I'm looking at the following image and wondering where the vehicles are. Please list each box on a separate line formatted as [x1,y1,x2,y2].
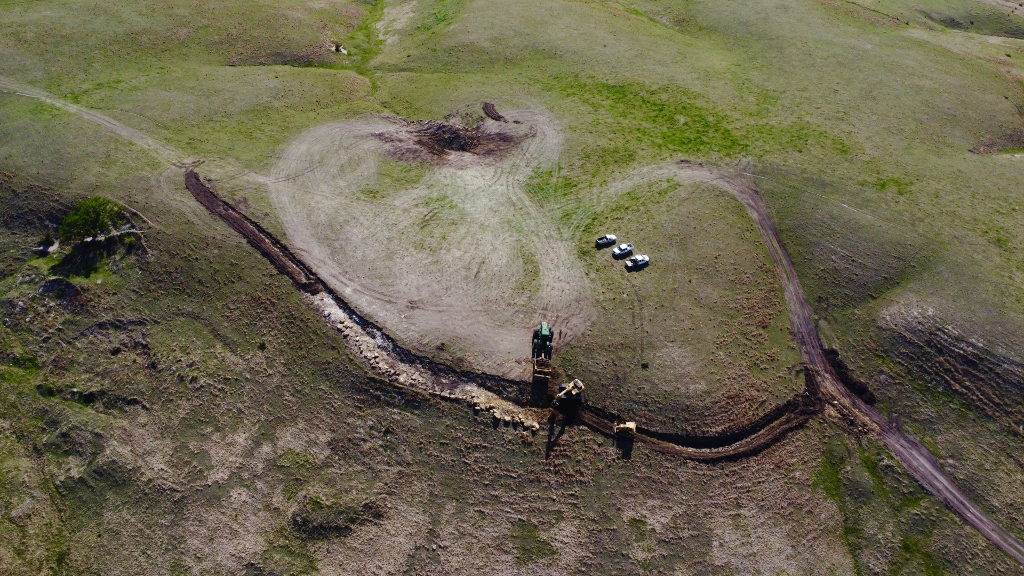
[626,256,650,268]
[613,244,635,256]
[533,325,554,355]
[596,235,618,246]
[549,381,582,407]
[612,422,636,440]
